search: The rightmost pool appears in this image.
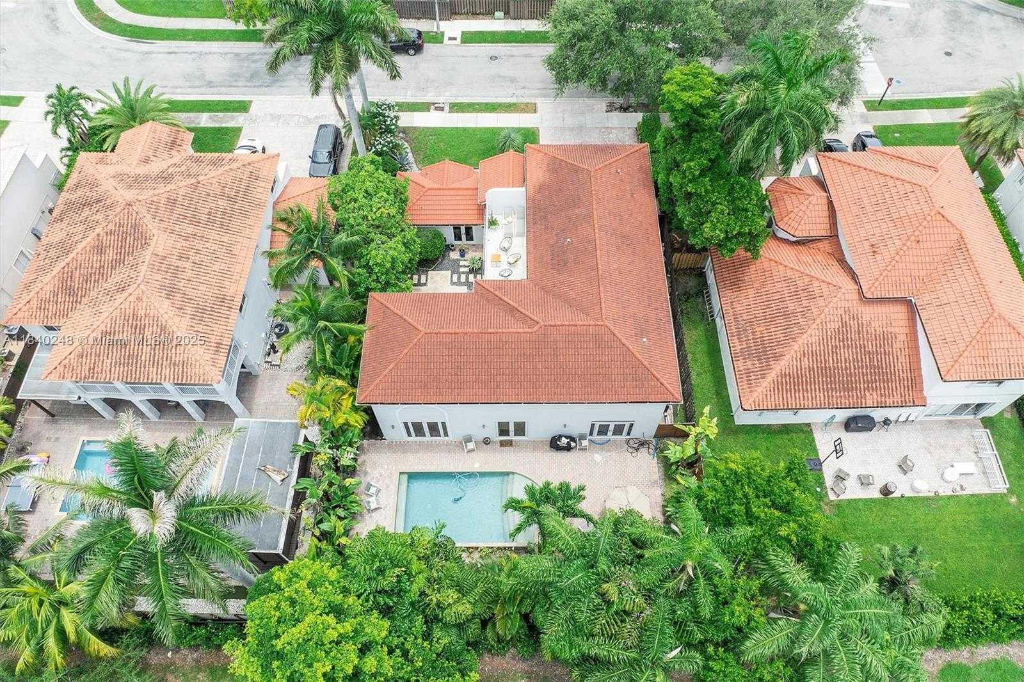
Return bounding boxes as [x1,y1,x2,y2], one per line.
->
[392,469,546,547]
